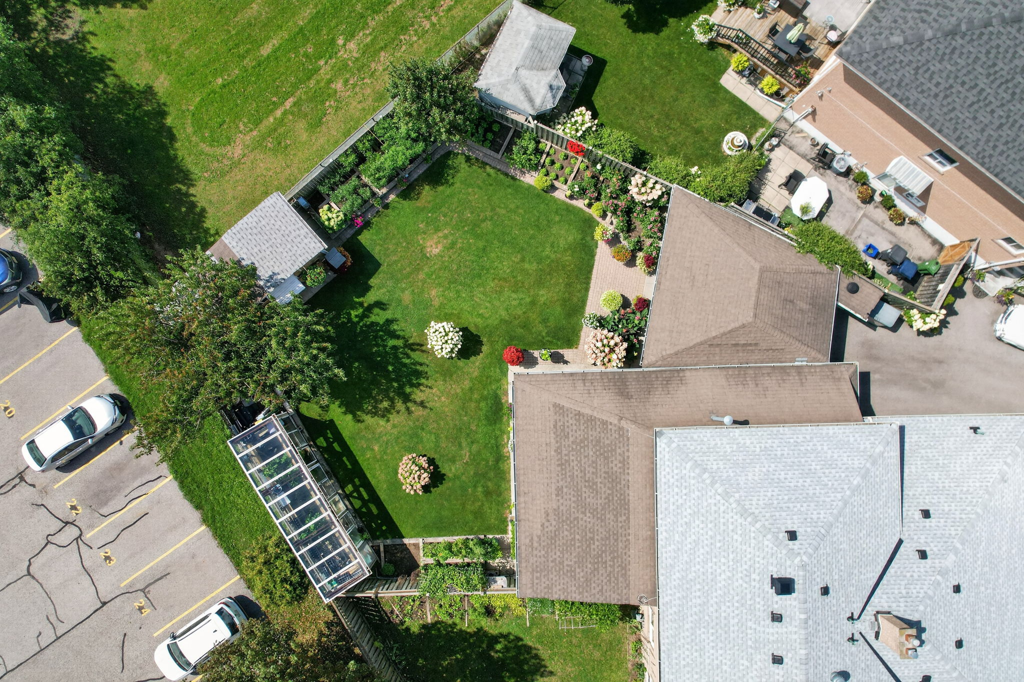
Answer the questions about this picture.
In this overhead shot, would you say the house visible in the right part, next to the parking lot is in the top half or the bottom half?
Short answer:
bottom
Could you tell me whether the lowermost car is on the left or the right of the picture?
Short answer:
left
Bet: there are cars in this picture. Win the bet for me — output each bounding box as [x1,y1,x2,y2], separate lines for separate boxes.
[0,252,30,307]
[16,391,130,479]
[993,308,1024,359]
[149,589,258,682]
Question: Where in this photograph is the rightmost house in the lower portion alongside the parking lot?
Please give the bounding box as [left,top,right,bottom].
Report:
[509,361,1024,682]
